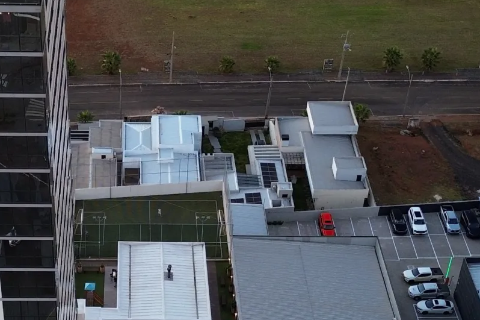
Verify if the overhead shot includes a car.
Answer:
Yes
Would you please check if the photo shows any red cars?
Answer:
Yes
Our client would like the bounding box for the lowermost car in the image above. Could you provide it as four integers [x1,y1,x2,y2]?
[417,299,459,315]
